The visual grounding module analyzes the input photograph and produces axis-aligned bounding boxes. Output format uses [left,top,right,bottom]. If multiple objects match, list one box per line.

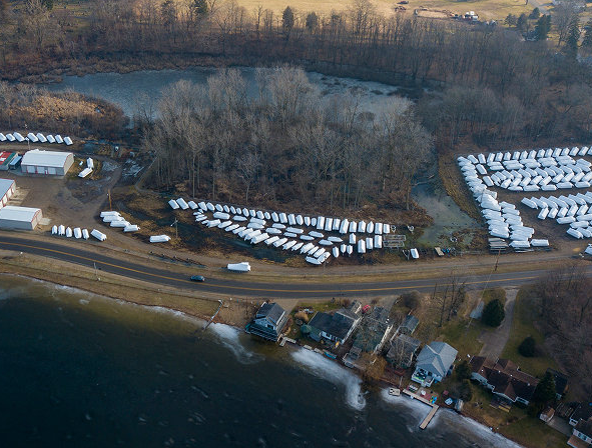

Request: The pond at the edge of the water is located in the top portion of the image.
[0,67,426,142]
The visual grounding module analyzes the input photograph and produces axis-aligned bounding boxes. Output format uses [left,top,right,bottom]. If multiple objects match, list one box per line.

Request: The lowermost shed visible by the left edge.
[0,204,41,230]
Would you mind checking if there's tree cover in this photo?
Yes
